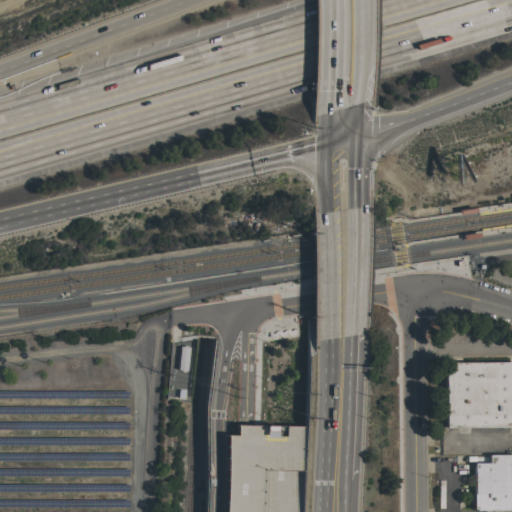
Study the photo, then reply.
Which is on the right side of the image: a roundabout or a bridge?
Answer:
bridge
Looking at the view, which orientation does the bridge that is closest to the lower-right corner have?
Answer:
from top to bottom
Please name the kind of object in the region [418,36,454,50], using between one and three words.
vehicle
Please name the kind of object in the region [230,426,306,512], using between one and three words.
building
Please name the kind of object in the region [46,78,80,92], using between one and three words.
vehicle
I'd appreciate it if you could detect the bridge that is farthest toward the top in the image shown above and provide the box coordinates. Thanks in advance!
[318,0,381,114]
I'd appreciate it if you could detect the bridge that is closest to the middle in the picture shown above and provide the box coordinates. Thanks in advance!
[317,208,374,342]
